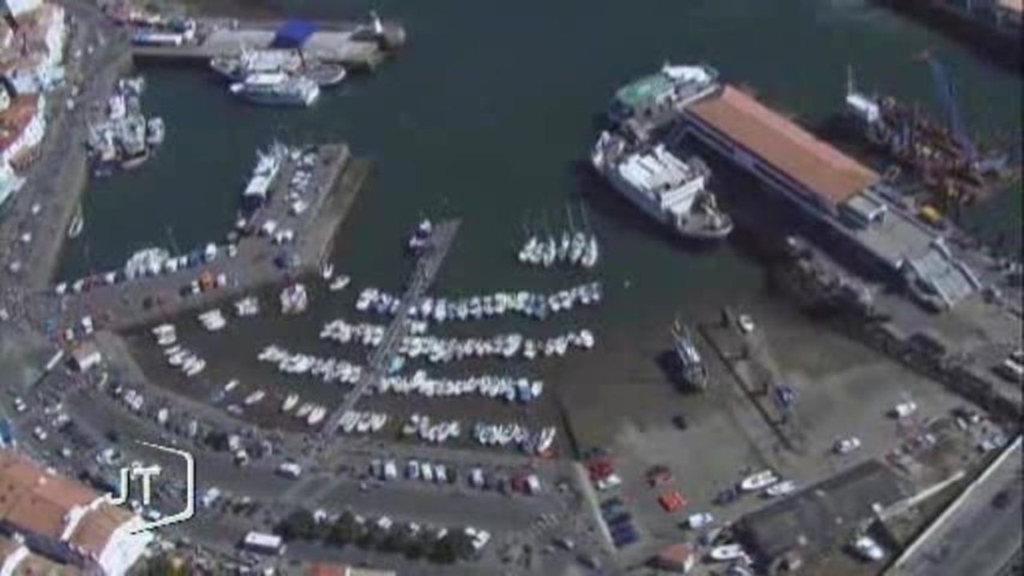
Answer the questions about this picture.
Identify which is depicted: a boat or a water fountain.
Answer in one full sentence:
Looking from above, you can make out a boat.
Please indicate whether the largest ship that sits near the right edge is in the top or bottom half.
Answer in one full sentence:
It is in the top half that the largest ship that sits near the right edge appears.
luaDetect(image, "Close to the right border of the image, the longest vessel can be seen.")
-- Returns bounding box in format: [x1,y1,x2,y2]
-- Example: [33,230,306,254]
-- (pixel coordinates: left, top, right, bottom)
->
[845,65,1008,206]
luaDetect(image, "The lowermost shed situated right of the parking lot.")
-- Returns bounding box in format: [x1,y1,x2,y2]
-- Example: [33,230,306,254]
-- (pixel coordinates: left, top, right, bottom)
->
[657,542,695,576]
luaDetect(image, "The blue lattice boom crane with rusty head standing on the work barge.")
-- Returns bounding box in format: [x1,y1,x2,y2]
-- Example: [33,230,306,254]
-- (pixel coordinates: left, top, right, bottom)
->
[921,52,985,173]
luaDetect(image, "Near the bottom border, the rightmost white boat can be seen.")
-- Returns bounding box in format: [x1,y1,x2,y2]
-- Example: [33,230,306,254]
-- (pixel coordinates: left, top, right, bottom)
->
[850,533,886,557]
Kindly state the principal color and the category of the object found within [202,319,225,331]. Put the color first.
white boat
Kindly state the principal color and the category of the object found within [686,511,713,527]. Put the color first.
white vehicle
